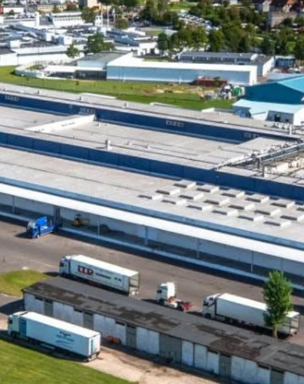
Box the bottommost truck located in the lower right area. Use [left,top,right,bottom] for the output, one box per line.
[203,296,300,335]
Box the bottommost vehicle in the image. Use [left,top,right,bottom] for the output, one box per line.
[8,316,99,358]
